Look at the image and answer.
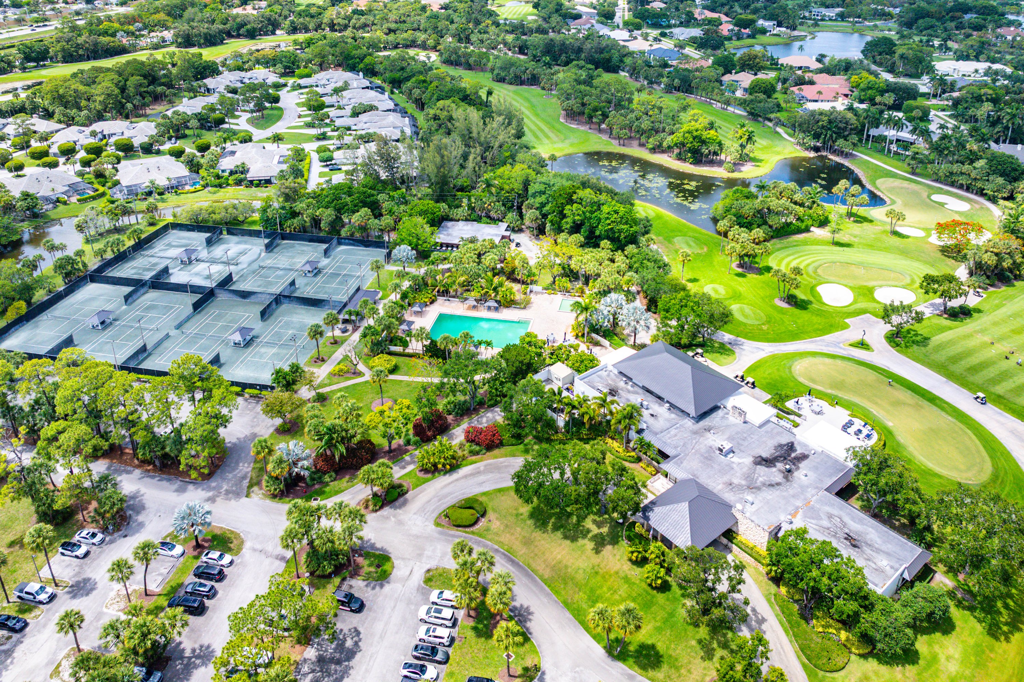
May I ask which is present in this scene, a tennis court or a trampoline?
tennis court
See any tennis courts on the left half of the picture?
Yes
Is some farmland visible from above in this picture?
No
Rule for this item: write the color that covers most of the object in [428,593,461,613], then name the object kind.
white car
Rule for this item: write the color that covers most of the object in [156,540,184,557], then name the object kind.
white car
